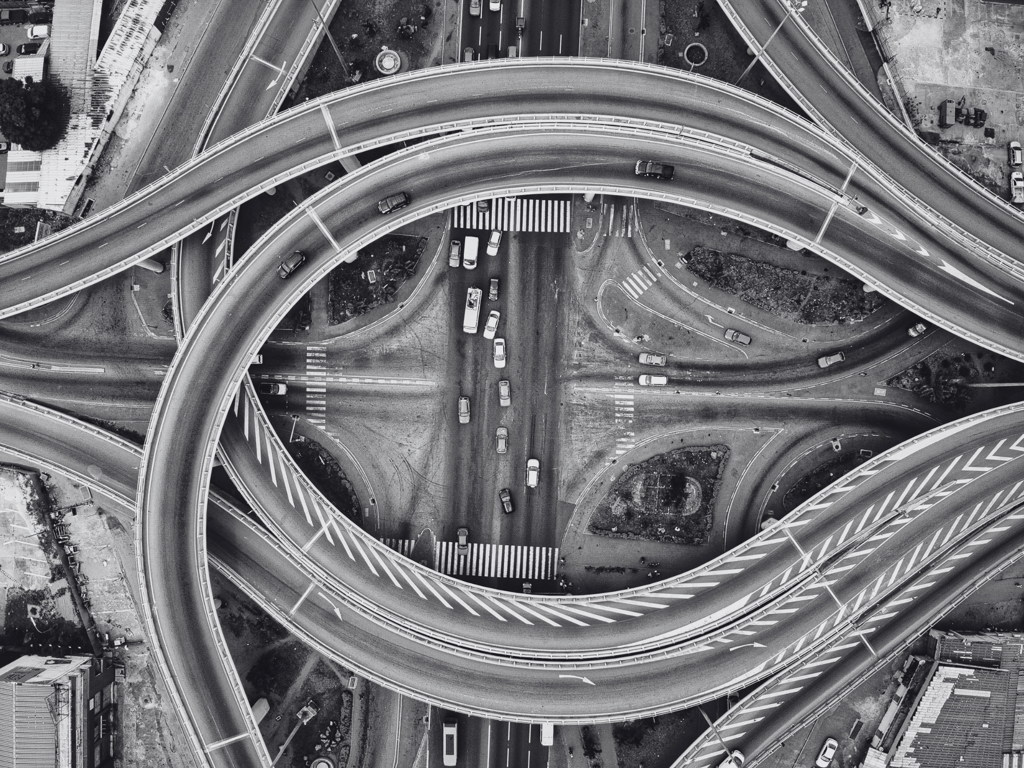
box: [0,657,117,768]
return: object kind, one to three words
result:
building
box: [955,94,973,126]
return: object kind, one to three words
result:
work vehicle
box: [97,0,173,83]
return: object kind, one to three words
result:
shed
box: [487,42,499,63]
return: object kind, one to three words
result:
vehicle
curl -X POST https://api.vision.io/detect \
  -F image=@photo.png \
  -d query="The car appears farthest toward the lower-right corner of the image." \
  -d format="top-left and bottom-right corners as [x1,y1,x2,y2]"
[814,734,838,768]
